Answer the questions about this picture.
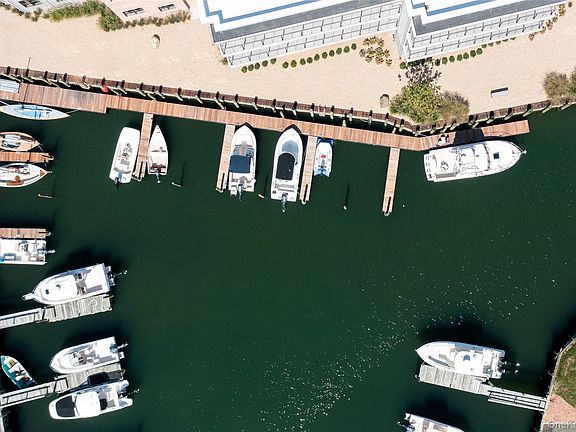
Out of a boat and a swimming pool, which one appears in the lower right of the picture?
boat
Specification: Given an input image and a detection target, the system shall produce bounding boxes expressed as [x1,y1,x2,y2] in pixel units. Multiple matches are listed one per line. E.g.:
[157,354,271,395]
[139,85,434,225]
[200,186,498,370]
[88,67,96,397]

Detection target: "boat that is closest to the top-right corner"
[422,125,529,186]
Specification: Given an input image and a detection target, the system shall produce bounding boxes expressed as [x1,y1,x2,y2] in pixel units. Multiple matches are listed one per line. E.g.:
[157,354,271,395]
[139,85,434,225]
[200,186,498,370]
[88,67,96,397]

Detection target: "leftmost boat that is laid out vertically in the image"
[110,127,141,191]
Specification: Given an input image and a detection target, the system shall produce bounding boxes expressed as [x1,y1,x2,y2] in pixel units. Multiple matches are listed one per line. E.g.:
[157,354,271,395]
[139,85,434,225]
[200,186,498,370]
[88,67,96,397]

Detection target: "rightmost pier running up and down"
[383,148,400,216]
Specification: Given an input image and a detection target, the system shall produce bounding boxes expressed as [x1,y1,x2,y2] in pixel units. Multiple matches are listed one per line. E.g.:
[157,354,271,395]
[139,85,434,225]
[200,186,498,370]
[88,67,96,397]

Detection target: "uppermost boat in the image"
[0,97,79,121]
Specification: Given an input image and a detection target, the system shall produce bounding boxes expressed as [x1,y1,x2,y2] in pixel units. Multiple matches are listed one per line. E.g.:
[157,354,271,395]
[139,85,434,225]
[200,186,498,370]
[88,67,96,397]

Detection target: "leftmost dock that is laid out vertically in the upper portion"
[129,115,154,183]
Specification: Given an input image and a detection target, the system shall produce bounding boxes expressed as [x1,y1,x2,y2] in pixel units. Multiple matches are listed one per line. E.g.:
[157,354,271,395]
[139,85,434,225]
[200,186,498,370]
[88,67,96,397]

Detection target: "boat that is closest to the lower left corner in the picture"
[2,356,40,390]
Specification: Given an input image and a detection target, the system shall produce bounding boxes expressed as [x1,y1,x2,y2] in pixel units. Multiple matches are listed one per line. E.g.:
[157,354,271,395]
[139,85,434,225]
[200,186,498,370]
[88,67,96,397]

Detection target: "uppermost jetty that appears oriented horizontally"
[0,75,529,151]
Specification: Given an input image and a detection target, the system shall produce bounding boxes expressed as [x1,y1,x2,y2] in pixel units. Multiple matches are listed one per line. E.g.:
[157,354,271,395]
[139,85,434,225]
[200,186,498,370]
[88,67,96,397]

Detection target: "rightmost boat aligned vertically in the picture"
[312,138,334,179]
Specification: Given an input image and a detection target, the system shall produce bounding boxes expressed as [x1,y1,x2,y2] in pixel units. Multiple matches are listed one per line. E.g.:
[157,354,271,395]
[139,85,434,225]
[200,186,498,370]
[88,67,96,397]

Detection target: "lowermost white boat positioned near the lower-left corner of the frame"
[46,376,134,422]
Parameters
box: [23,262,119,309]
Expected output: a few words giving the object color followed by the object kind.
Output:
white boat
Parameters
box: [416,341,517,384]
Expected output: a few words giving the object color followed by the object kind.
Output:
white boat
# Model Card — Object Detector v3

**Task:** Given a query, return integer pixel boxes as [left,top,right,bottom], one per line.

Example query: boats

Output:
[2,356,40,390]
[23,262,119,309]
[0,233,55,265]
[221,119,259,204]
[0,132,51,158]
[47,334,128,379]
[271,121,307,213]
[0,161,54,188]
[312,138,334,179]
[144,119,168,183]
[416,341,517,384]
[422,125,529,186]
[110,127,141,191]
[46,376,134,422]
[0,97,79,121]
[395,411,462,432]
